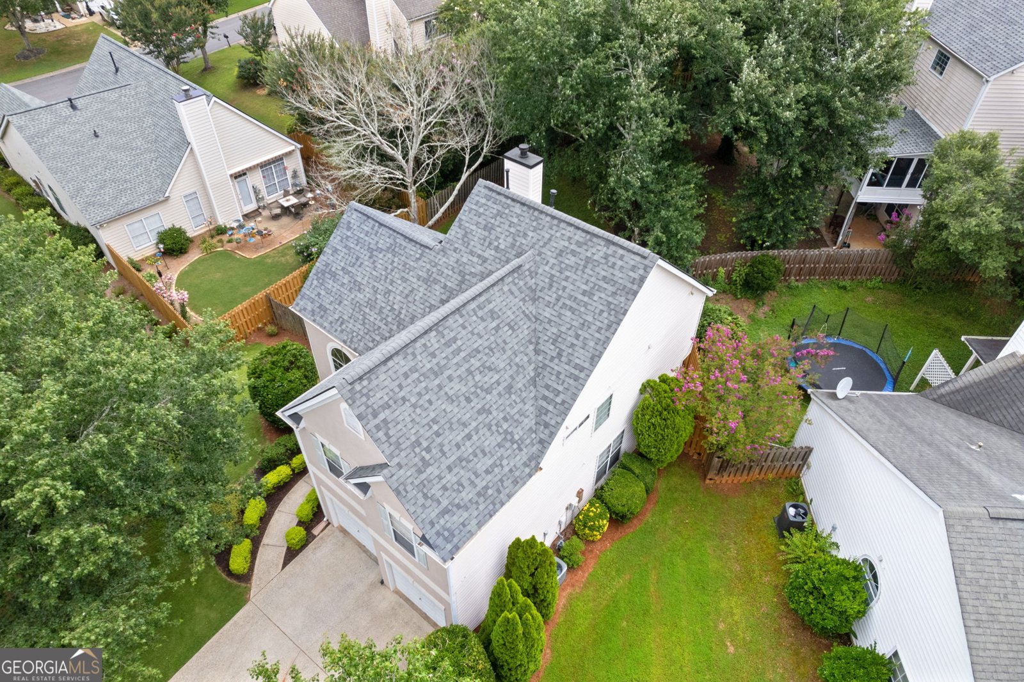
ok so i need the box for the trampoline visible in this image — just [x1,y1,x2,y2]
[787,309,924,404]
